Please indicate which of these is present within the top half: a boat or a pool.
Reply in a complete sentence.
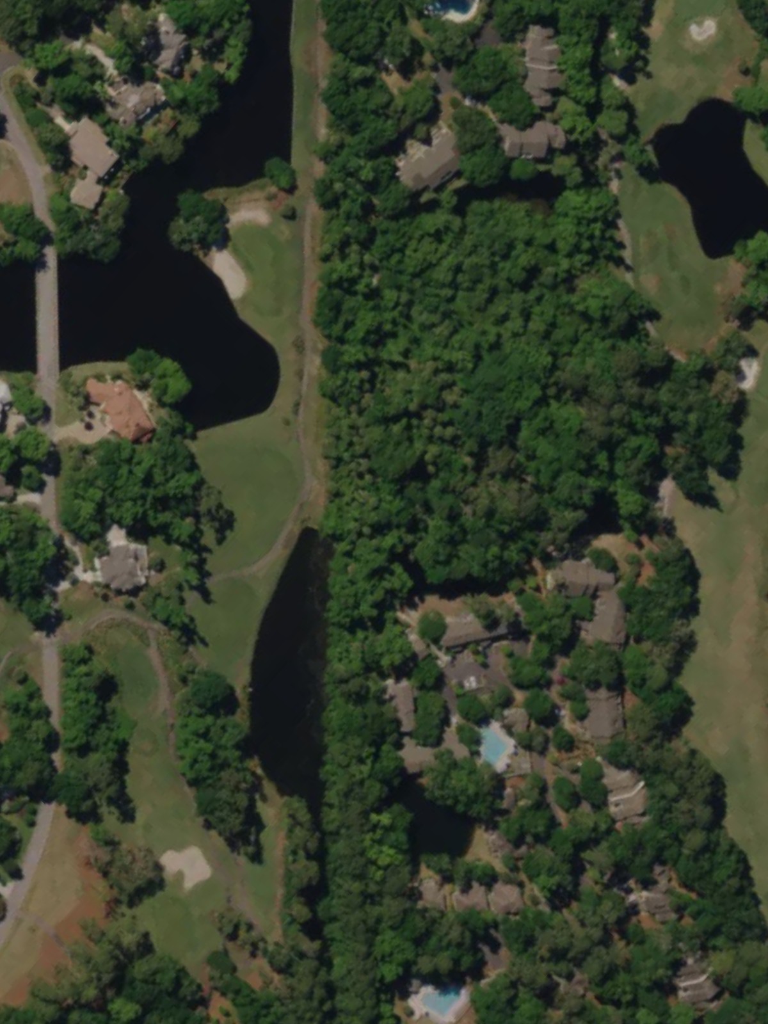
The one visible within the top half is a pool.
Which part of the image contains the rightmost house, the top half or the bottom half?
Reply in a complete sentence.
You can find the rightmost house in the bottom half.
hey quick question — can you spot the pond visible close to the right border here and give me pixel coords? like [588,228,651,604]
[653,98,768,258]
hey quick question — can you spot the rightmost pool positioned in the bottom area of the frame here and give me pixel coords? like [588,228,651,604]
[478,718,516,772]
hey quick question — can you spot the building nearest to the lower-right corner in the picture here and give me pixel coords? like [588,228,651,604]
[677,960,720,1010]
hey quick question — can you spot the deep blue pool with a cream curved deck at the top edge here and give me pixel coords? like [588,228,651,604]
[428,0,478,21]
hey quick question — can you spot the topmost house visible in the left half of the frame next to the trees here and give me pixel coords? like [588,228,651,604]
[155,15,188,69]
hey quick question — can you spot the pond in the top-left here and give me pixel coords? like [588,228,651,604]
[0,0,292,430]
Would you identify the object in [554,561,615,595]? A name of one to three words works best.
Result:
house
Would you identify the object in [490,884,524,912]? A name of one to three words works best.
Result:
house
